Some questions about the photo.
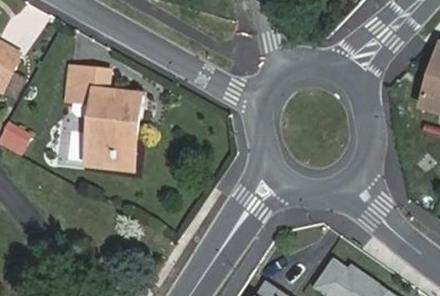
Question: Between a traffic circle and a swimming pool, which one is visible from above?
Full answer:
It is a traffic circle that can be seen here.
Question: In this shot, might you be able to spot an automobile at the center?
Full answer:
No, there's no automobile to be seen at the center.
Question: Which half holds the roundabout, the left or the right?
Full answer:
It is on the right.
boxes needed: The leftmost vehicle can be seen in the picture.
[266,256,286,273]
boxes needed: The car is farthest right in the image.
[286,263,306,282]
